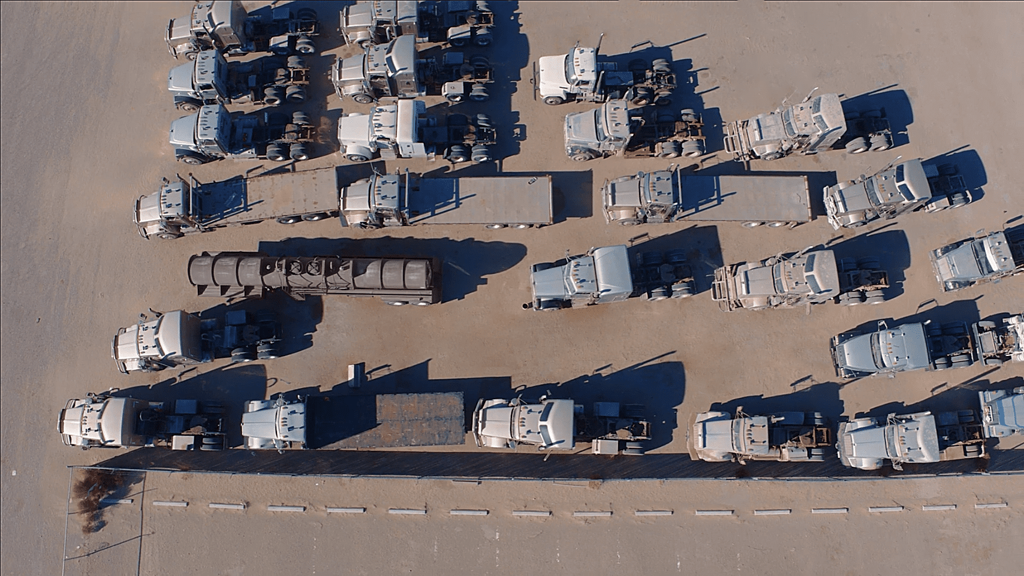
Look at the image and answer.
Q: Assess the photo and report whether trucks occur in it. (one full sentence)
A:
Yes, this view includes a truck.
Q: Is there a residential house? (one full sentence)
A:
No, I can see no residential house in this picture.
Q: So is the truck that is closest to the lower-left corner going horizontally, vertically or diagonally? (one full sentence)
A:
In this picture, the truck that is closest to the lower-left corner is oriented horizontally.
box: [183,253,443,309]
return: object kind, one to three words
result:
trailer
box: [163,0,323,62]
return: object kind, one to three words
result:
truck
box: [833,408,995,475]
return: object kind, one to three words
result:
truck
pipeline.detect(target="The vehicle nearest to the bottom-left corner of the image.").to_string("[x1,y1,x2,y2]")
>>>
[54,388,231,455]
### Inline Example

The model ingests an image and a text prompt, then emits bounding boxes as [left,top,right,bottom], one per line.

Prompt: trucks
[331,30,497,104]
[527,245,698,311]
[732,86,895,162]
[170,43,313,112]
[339,0,498,52]
[471,390,654,457]
[833,408,995,475]
[337,96,499,163]
[54,388,231,455]
[718,246,892,312]
[132,165,341,240]
[170,96,319,163]
[239,390,465,456]
[109,309,286,373]
[971,379,1024,439]
[817,154,980,231]
[561,92,708,160]
[530,27,679,108]
[163,0,323,62]
[928,228,1024,294]
[684,403,834,470]
[600,160,814,227]
[824,321,983,385]
[338,163,555,230]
